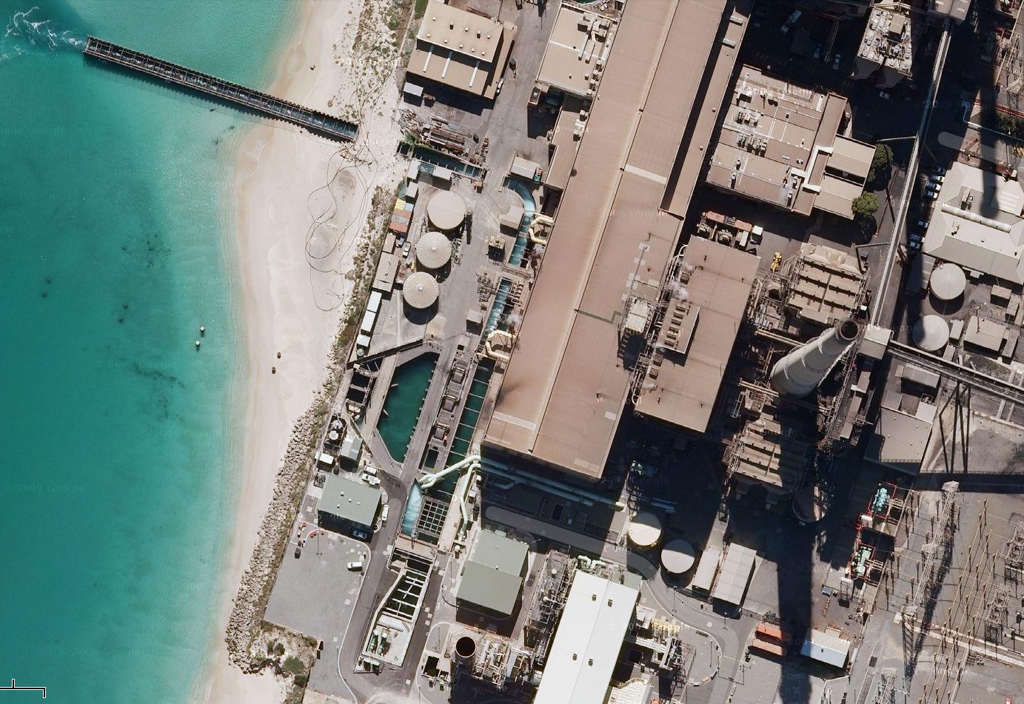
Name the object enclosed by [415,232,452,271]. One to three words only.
storage tank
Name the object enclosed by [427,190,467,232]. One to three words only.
storage tank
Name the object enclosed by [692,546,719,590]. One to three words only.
shed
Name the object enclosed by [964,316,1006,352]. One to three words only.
building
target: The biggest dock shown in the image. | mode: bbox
[82,35,360,141]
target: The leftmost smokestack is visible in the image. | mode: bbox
[454,636,477,660]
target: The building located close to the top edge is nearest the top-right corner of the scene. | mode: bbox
[917,0,972,44]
